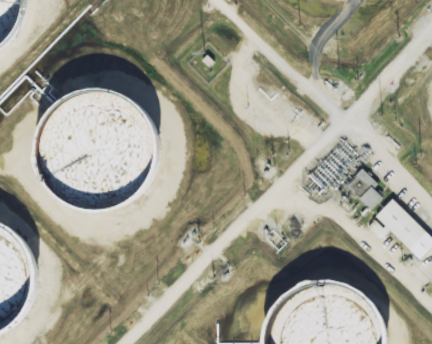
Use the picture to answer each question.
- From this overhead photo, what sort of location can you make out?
industrial area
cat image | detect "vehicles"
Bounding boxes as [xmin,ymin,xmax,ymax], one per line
[362,242,370,250]
[386,264,394,272]
[409,200,418,208]
[423,258,432,266]
[384,236,392,246]
[386,172,394,180]
[399,190,408,198]
[391,243,400,252]
[373,162,382,170]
